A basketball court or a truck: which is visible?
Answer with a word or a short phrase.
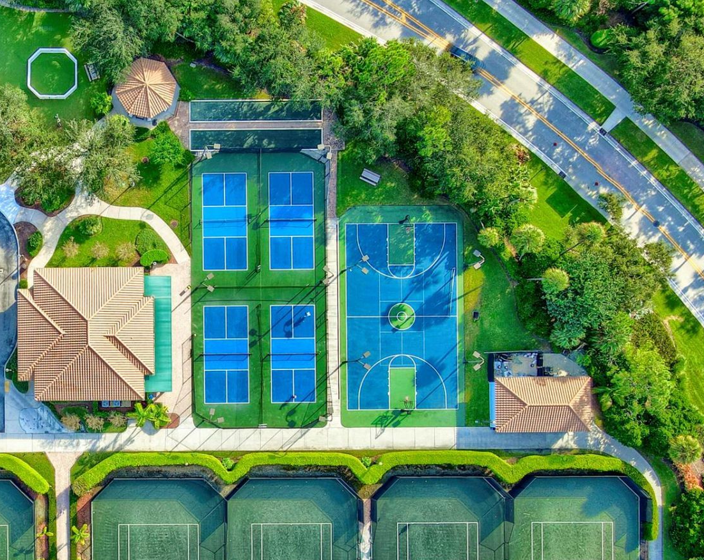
basketball court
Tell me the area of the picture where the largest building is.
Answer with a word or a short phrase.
left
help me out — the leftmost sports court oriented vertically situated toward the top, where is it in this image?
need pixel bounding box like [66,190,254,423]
[191,152,260,294]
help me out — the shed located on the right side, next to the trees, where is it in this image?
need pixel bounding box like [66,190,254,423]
[487,377,591,434]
